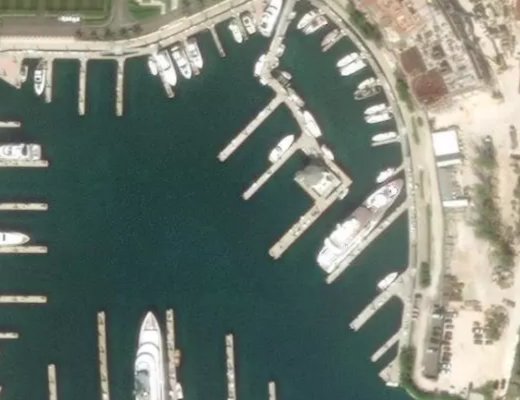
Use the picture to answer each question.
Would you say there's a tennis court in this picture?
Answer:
No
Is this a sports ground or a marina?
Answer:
marina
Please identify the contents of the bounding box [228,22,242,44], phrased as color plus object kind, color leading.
white boat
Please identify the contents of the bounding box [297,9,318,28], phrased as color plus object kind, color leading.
white boat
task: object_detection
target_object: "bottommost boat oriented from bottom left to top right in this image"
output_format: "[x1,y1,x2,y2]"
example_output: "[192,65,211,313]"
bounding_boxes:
[376,273,398,291]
